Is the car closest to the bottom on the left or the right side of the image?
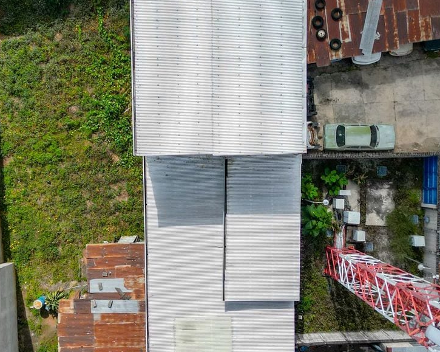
right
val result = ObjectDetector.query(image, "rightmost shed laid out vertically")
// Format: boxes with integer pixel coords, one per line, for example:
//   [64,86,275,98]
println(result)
[415,156,438,208]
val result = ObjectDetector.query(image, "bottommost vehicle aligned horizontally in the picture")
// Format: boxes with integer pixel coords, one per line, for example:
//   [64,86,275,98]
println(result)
[323,121,394,152]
